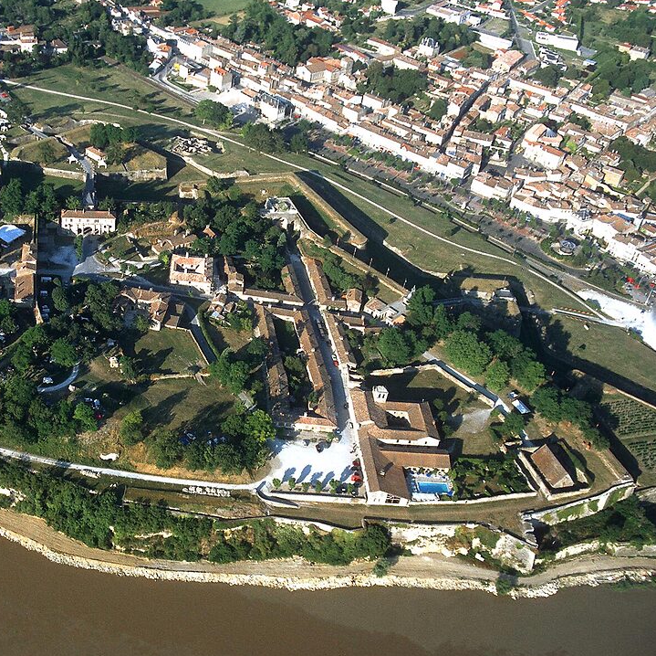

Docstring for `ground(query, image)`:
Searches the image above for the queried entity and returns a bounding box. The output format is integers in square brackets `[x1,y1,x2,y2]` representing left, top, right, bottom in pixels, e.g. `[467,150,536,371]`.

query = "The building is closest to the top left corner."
[3,30,34,56]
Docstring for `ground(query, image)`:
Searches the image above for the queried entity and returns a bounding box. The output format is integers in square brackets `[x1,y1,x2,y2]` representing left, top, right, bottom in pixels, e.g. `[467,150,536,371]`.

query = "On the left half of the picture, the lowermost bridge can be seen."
[81,164,97,213]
